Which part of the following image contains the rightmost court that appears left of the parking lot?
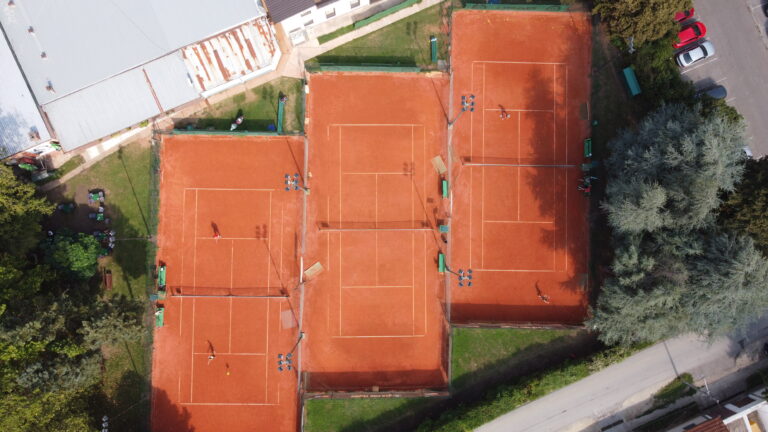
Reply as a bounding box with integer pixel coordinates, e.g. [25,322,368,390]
[450,10,592,323]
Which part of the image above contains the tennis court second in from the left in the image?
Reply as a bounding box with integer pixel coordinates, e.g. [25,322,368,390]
[304,72,448,388]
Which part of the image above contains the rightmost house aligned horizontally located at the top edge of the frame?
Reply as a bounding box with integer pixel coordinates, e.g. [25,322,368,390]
[269,0,404,57]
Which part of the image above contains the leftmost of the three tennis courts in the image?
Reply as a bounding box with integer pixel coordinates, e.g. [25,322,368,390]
[152,134,304,432]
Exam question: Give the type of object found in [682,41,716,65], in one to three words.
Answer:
car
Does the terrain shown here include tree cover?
Yes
